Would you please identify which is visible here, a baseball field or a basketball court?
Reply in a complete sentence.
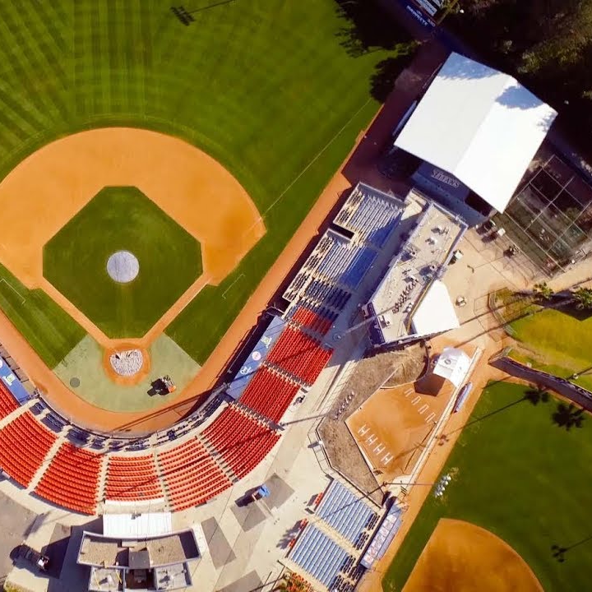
I can see a baseball field in this picture.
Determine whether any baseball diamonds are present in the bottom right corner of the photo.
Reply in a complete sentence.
Yes, a baseball diamond shows up in the bottom right corner of the photo.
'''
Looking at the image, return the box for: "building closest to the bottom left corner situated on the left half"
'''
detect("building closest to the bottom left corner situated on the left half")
[76,526,202,592]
